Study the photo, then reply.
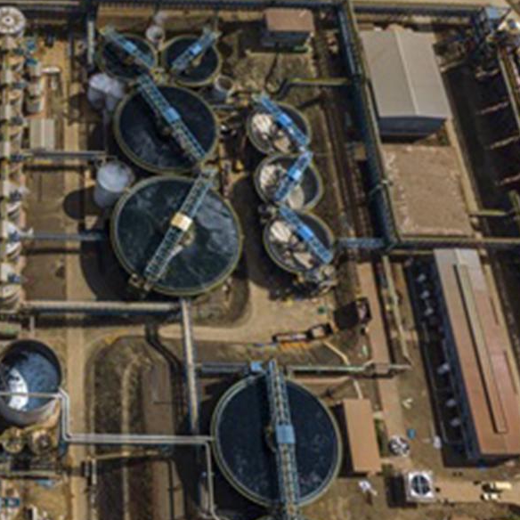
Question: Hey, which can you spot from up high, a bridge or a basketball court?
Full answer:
This aerial view contains a bridge.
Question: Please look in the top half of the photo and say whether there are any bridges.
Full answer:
Yes, a bridge appears in the top half of the photo.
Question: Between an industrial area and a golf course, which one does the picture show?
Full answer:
This looks like an industrial area.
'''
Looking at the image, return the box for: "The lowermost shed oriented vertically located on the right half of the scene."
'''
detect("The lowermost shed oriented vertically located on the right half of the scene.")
[337,400,383,474]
